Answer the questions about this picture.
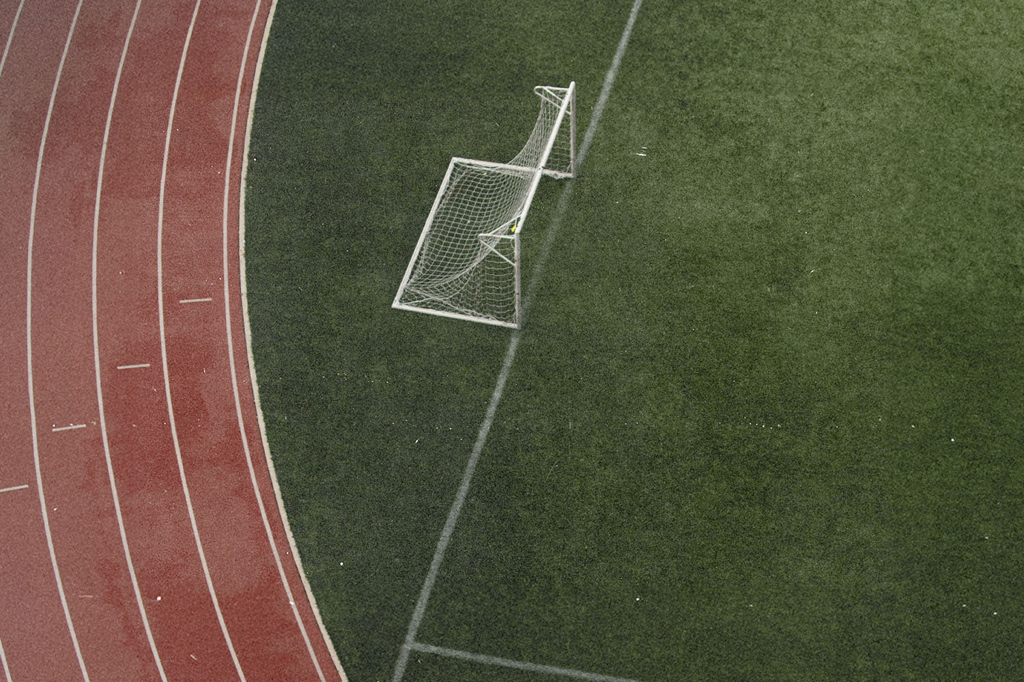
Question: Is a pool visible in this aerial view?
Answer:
No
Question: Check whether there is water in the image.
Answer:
No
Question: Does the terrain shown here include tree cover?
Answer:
No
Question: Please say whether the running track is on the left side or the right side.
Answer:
left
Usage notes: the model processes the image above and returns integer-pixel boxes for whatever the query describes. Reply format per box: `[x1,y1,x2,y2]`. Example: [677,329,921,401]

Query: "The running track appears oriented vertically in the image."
[0,0,342,682]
